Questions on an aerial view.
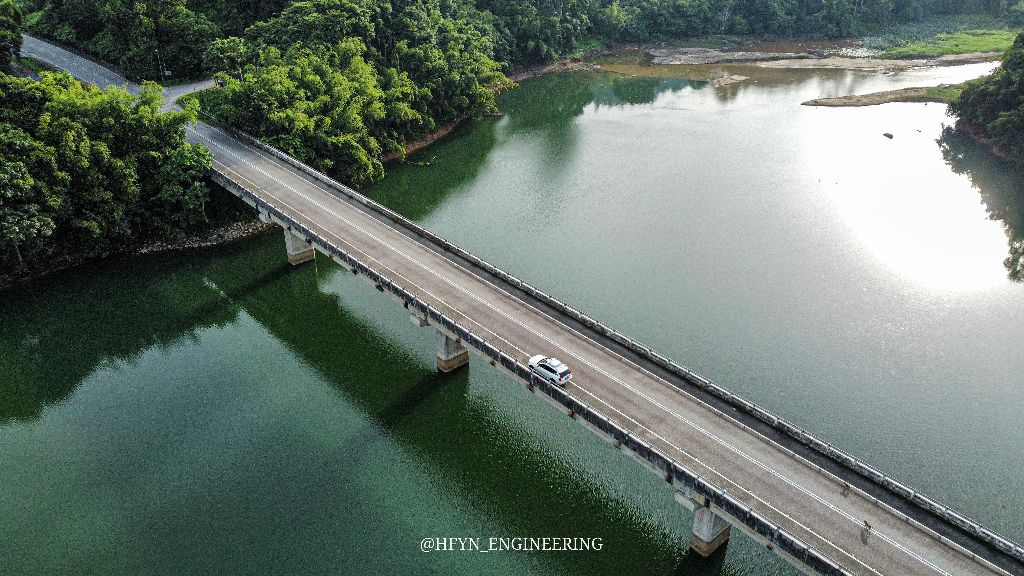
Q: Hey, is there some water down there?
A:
Yes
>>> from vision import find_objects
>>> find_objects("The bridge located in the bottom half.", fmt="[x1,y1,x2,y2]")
[174,124,1024,576]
